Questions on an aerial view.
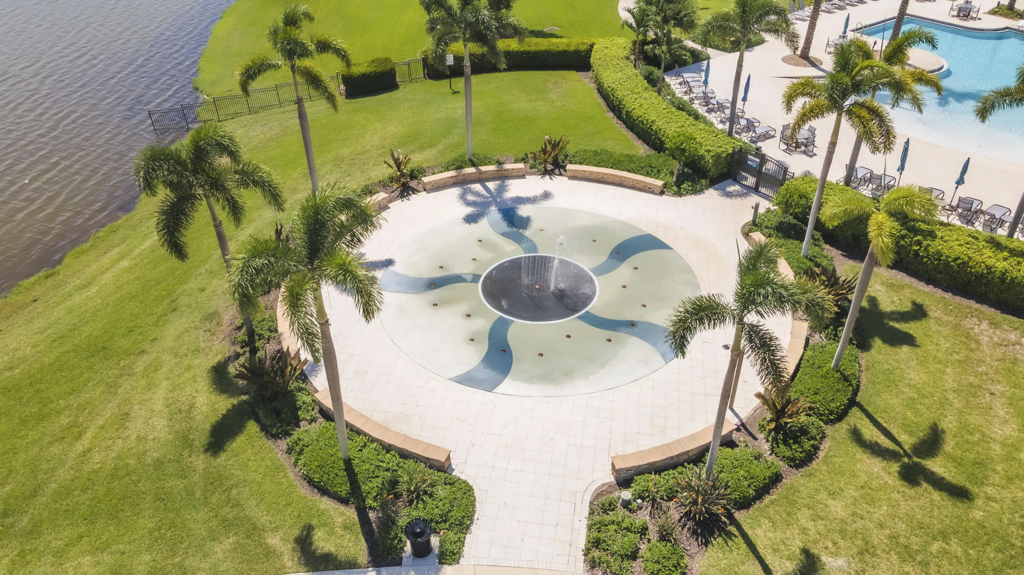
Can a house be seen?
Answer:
No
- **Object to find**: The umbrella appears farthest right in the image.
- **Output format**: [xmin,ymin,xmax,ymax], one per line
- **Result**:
[953,154,970,199]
